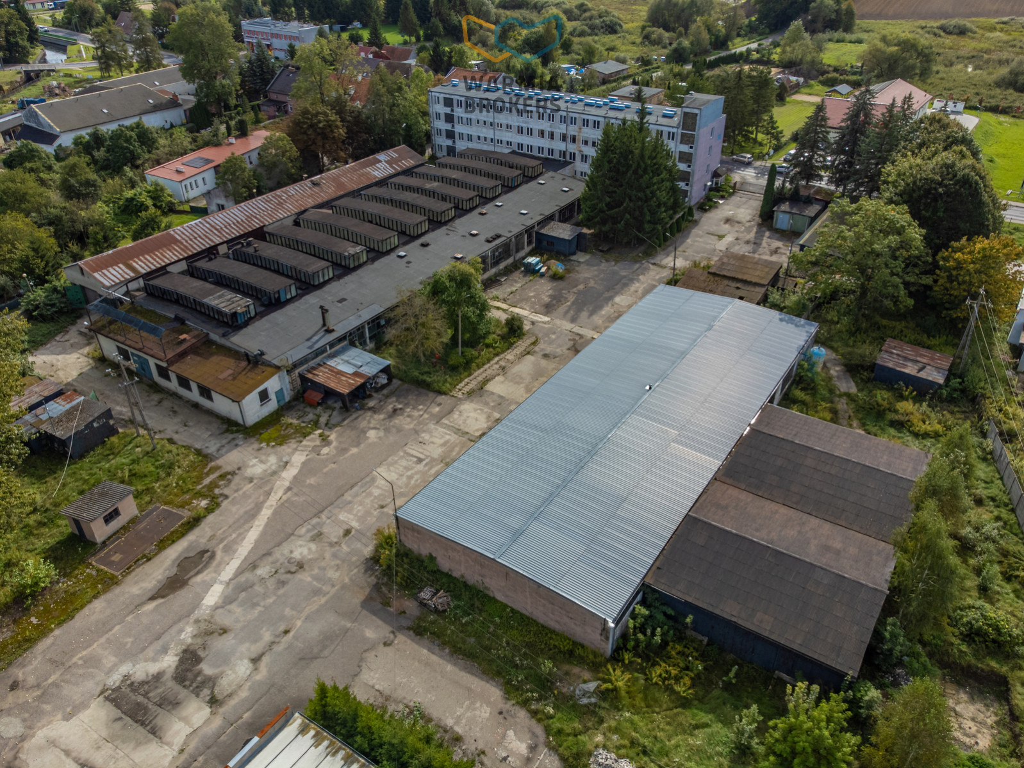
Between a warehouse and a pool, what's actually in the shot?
warehouse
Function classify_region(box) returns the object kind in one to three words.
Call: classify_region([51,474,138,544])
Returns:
building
